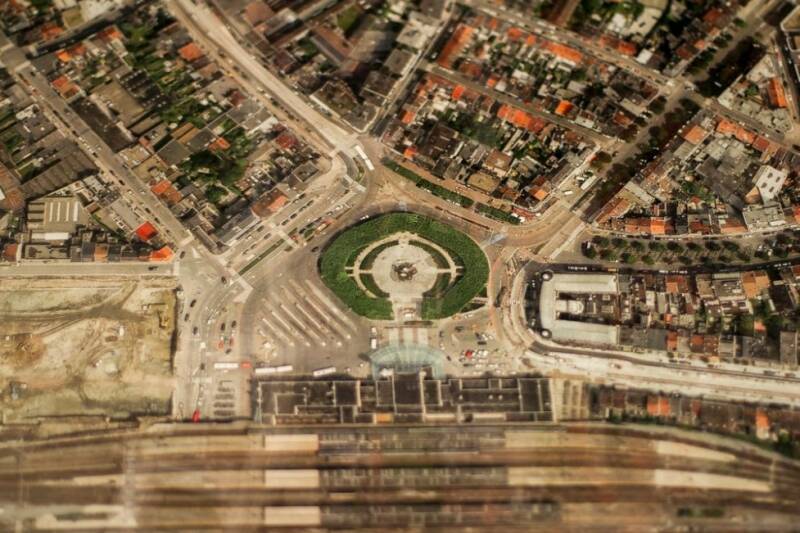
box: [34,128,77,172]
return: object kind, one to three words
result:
house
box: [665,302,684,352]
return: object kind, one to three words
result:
house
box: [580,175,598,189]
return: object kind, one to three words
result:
vehicle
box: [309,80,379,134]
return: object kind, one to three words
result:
building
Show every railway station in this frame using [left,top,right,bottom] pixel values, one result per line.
[258,342,560,427]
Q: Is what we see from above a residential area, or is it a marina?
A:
residential area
